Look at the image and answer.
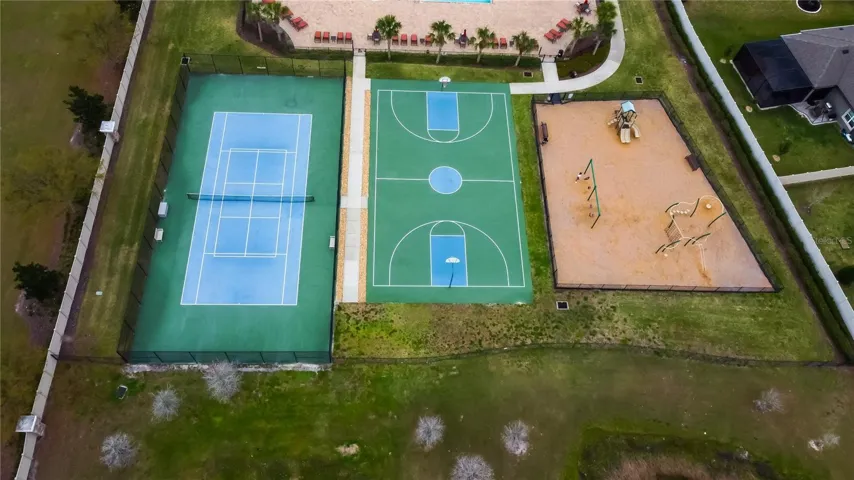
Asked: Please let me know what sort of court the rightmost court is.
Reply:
basketball court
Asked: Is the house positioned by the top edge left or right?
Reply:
right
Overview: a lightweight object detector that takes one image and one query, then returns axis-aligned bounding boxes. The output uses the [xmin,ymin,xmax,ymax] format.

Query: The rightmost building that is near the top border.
[727,22,854,143]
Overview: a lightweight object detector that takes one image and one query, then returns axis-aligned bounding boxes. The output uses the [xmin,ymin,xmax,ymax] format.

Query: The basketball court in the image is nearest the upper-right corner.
[365,79,532,305]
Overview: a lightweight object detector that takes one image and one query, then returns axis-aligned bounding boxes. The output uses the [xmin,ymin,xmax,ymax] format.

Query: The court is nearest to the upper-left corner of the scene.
[128,76,343,363]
